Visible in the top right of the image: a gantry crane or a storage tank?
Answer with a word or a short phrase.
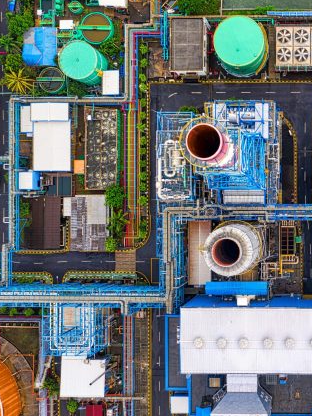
storage tank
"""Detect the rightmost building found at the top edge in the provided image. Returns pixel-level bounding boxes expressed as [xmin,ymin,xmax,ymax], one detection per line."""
[170,17,207,82]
